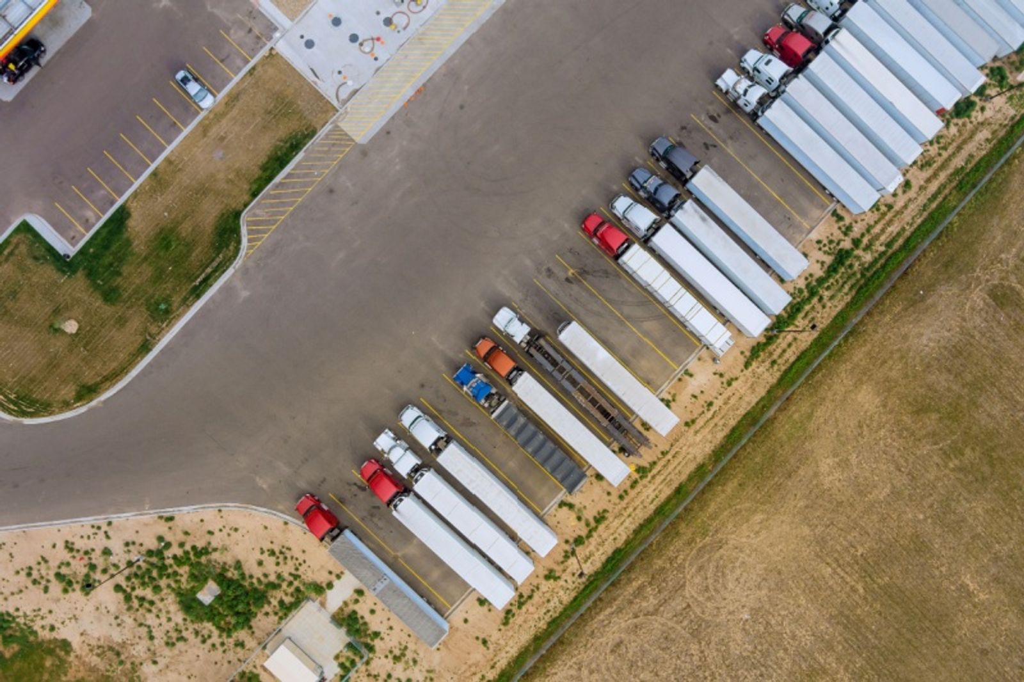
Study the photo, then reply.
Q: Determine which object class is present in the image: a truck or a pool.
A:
truck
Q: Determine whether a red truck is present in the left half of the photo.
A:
Yes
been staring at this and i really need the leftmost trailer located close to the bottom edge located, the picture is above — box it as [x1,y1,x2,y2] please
[328,527,450,649]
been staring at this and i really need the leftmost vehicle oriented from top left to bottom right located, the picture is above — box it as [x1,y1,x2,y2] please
[176,68,213,108]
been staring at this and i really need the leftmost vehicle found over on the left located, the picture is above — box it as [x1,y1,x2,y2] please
[0,45,48,87]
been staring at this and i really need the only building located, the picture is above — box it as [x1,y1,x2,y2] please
[265,635,335,682]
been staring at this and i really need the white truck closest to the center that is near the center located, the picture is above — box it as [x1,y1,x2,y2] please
[493,307,549,362]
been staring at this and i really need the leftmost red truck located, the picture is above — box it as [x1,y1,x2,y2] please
[298,493,365,540]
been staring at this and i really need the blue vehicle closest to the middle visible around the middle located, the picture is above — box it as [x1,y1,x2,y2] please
[454,364,514,413]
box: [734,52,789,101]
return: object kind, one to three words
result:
truck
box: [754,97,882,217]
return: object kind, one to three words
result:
trailer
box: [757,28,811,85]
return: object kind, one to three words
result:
truck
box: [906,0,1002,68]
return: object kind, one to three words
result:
trailer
